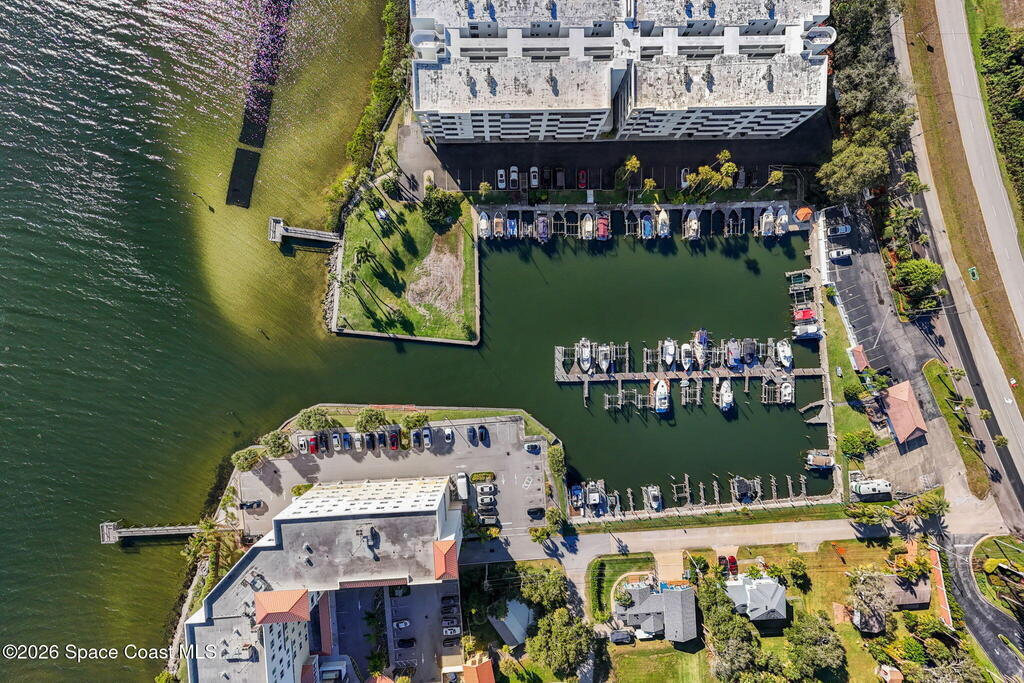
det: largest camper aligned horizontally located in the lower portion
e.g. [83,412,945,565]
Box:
[847,480,894,496]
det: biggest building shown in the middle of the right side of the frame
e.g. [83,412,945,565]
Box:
[880,380,927,443]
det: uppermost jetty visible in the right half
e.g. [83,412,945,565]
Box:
[470,204,793,237]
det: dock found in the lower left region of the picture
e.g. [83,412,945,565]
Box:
[97,519,210,546]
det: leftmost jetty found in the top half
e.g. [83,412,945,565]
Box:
[266,216,344,245]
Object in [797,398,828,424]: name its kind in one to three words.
pier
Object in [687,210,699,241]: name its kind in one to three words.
boat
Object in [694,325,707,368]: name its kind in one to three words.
boat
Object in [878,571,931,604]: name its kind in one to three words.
house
